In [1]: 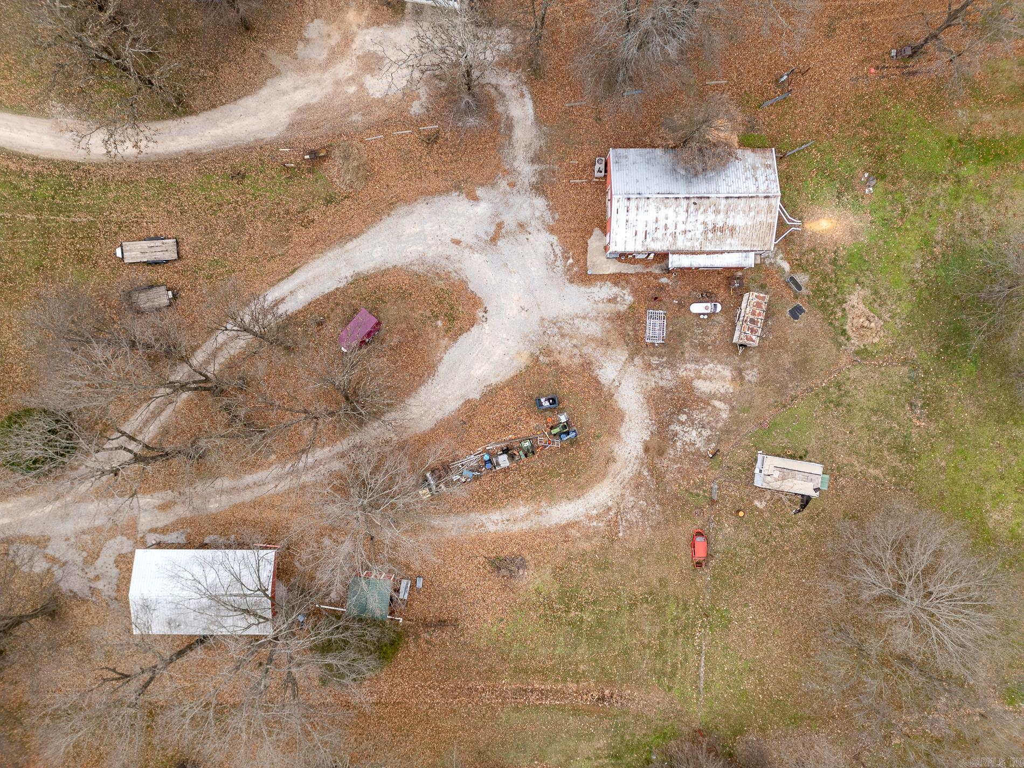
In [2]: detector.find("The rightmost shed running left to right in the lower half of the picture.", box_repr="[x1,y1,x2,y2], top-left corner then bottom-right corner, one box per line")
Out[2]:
[756,451,836,498]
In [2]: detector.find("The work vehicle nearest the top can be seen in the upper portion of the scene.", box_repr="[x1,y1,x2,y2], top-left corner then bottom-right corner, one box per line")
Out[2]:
[303,147,324,160]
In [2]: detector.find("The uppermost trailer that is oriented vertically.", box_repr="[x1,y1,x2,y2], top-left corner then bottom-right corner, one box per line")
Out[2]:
[735,291,772,354]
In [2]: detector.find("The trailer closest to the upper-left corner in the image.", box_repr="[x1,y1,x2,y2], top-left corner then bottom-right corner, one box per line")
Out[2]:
[109,237,174,264]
